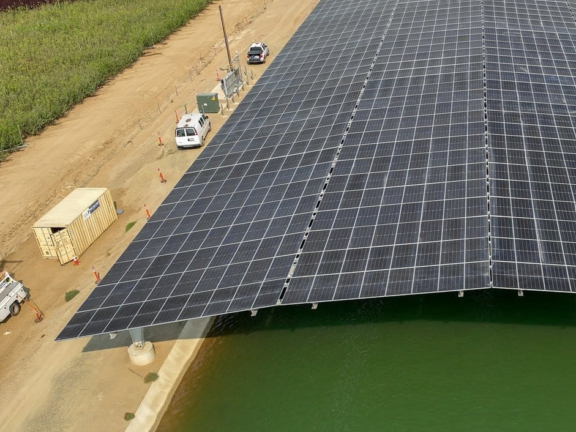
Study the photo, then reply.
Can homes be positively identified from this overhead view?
No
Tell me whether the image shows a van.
Yes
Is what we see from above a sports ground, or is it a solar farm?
solar farm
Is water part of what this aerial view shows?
Yes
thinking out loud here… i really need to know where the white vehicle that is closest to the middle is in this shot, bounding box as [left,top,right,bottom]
[180,112,214,145]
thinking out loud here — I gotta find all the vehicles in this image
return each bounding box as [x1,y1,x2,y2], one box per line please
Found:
[0,275,26,319]
[247,41,271,62]
[180,112,214,145]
